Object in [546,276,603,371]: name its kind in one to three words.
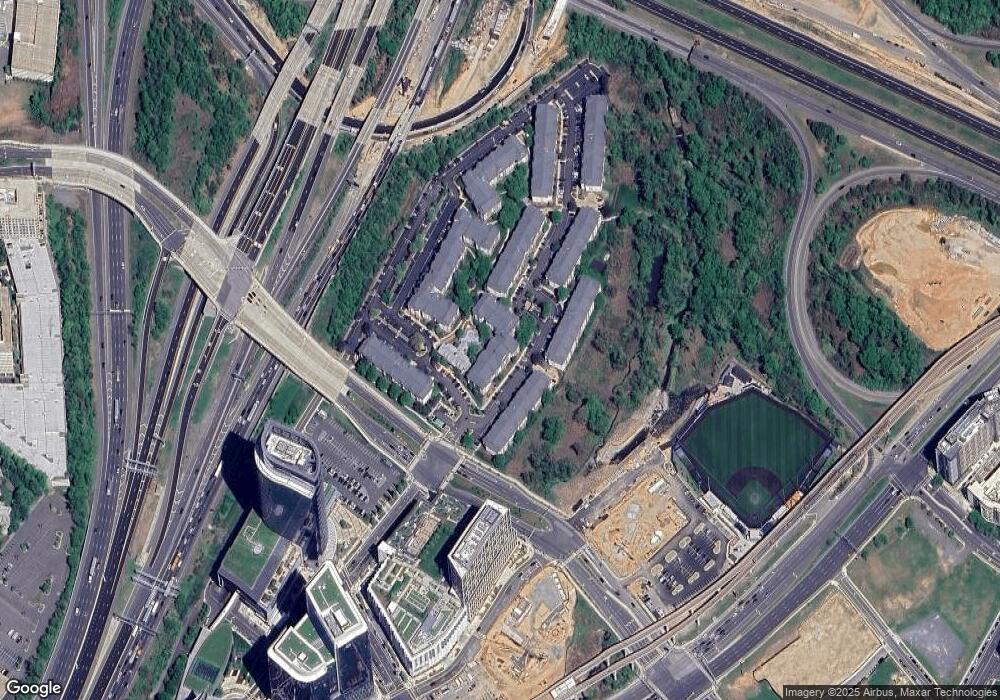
building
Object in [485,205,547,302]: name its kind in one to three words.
building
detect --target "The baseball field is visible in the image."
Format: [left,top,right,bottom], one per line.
[677,386,835,530]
